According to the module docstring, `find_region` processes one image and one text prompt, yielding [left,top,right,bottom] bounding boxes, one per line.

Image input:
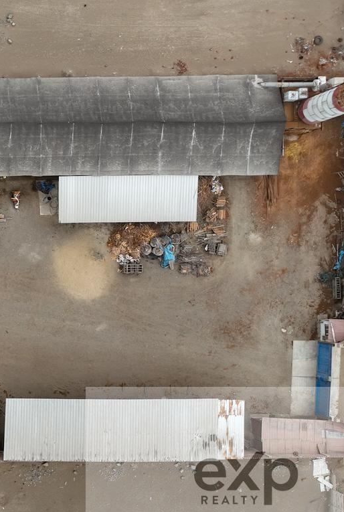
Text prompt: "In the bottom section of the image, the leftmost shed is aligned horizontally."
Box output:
[1,398,245,462]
